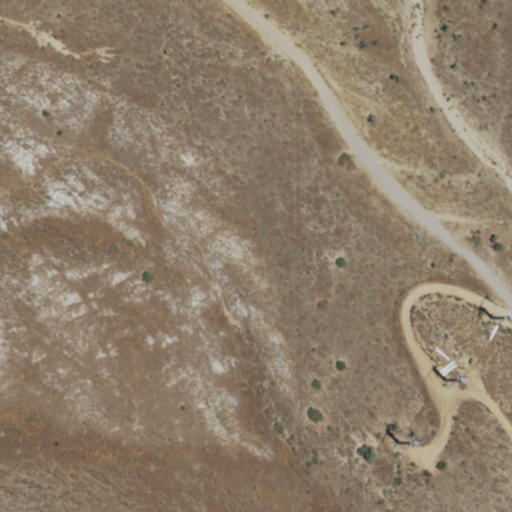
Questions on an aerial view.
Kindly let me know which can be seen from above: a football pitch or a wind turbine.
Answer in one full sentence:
It is a wind turbine that can be seen here.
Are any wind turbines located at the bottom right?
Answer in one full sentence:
Yes, you'll find a wind turbine at the bottom right.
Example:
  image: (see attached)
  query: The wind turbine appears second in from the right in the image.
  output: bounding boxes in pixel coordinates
[443,363,470,392]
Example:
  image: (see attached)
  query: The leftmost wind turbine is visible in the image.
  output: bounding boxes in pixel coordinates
[396,425,422,460]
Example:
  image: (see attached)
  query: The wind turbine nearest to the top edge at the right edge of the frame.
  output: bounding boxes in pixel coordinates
[490,307,512,336]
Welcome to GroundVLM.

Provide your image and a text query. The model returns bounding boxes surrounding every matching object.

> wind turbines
[396,425,422,460]
[443,363,470,392]
[490,307,512,336]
